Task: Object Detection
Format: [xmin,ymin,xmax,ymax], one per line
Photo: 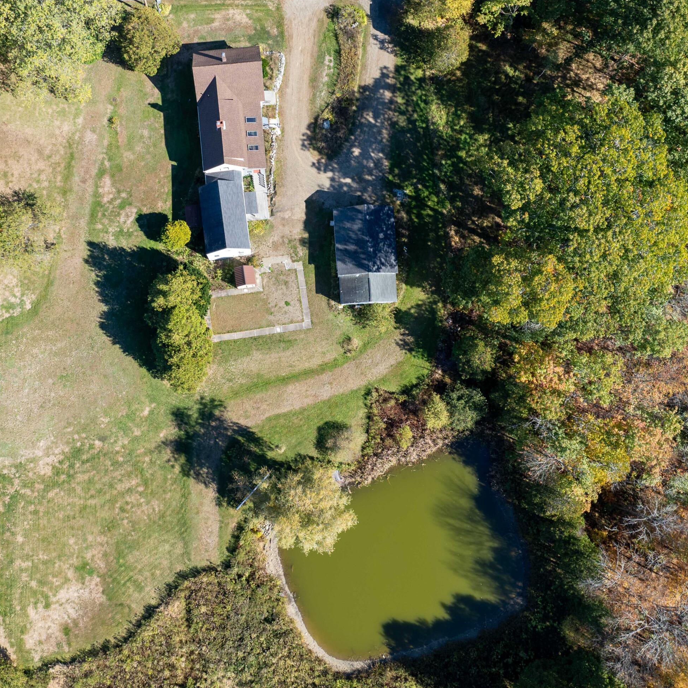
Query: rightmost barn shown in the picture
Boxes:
[333,204,398,306]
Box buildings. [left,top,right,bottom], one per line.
[233,265,255,288]
[333,204,398,306]
[189,47,268,259]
